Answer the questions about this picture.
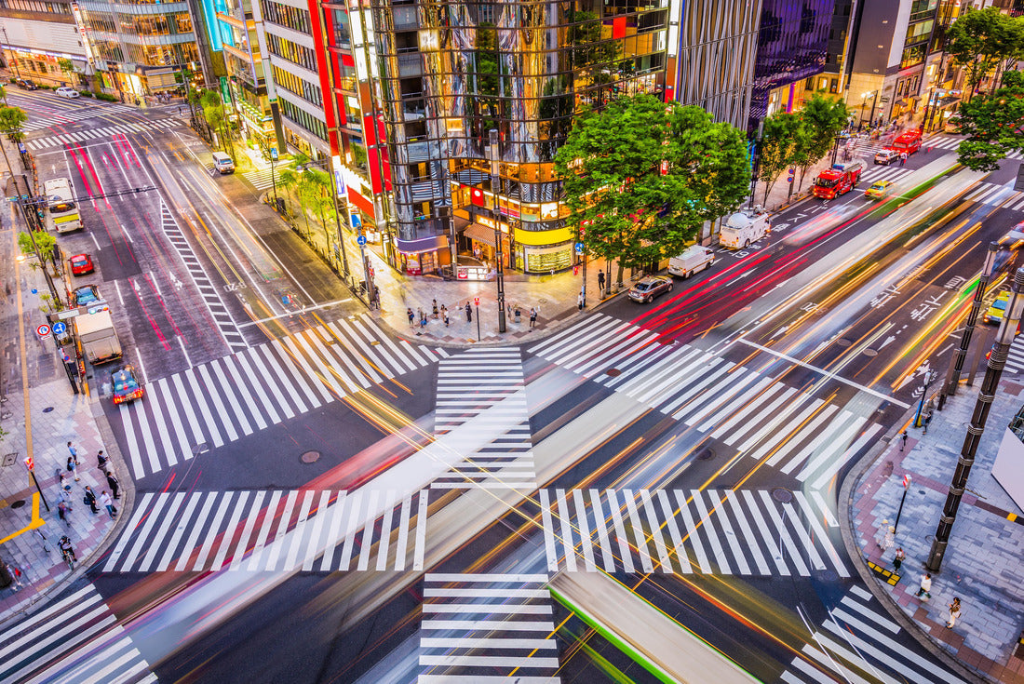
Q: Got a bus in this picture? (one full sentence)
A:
Yes, looking at the shot, I can spot a bus.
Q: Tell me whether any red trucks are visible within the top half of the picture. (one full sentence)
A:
Yes, a red truck is visible within the top half of the picture.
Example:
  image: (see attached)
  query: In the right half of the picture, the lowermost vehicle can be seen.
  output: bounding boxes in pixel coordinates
[550,558,725,684]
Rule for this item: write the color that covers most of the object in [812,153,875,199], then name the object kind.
red truck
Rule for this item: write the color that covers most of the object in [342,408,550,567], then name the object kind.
white bus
